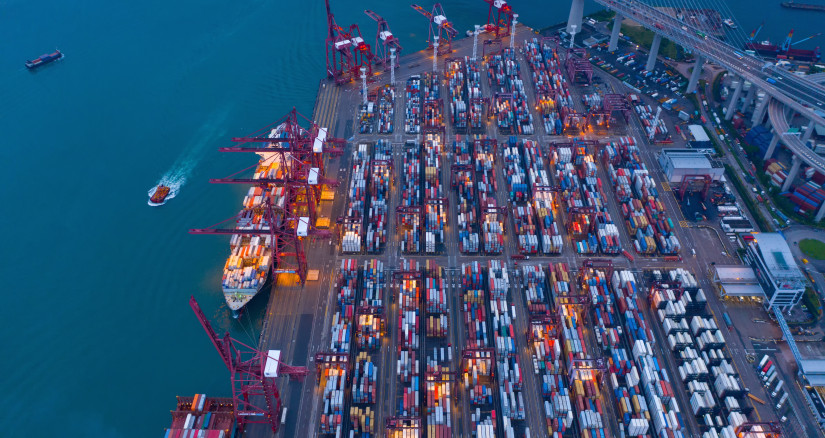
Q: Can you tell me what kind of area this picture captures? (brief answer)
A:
port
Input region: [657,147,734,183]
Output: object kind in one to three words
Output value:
building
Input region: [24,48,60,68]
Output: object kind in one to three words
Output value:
ship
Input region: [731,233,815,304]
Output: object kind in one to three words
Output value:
building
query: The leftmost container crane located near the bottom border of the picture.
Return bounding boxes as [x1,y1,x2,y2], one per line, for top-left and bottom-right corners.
[183,298,305,432]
